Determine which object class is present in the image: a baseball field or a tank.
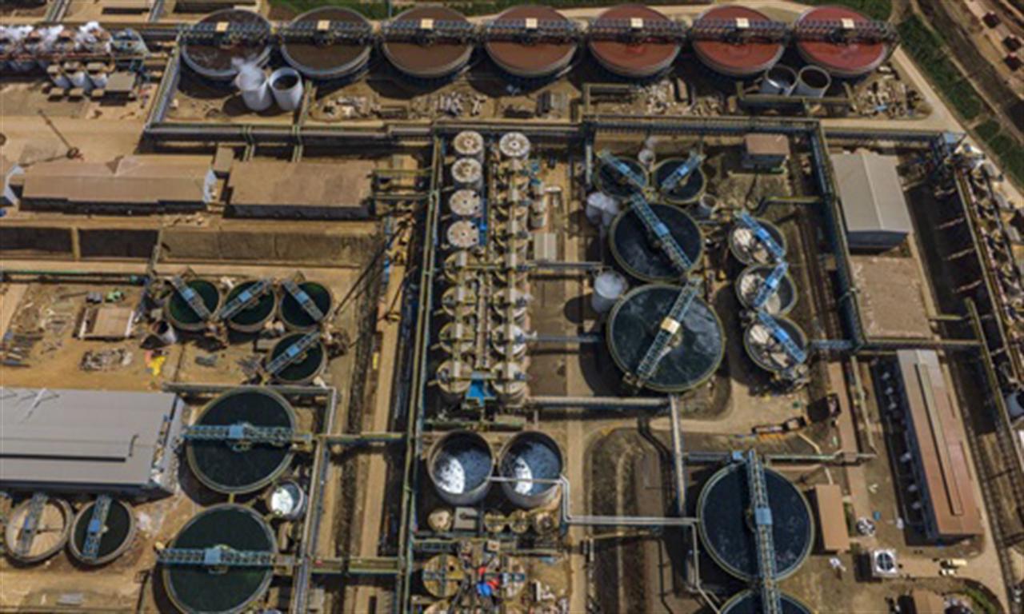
tank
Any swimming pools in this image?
No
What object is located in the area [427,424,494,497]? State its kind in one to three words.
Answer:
storage tank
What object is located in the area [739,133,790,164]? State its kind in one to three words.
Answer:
building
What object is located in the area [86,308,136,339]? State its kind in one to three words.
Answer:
shed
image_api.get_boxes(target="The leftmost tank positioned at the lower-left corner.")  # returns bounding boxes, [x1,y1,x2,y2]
[0,487,78,570]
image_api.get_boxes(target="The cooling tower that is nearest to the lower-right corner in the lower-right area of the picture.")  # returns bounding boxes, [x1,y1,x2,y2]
[867,551,906,581]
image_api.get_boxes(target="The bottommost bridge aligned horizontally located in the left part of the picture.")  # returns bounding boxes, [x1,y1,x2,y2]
[147,546,291,566]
